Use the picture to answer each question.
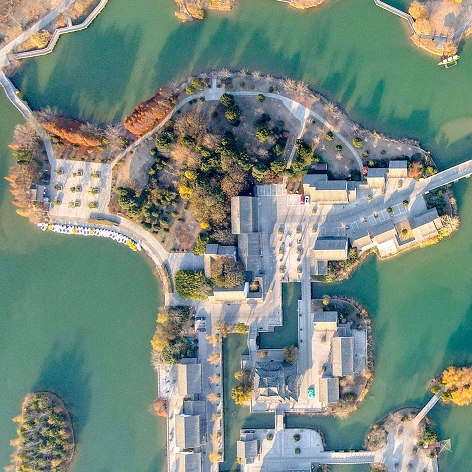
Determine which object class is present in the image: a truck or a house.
house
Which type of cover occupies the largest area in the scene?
water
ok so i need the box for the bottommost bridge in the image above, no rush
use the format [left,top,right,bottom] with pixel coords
[318,451,383,464]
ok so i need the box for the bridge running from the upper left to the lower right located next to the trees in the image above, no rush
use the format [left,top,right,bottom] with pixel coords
[0,64,50,143]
